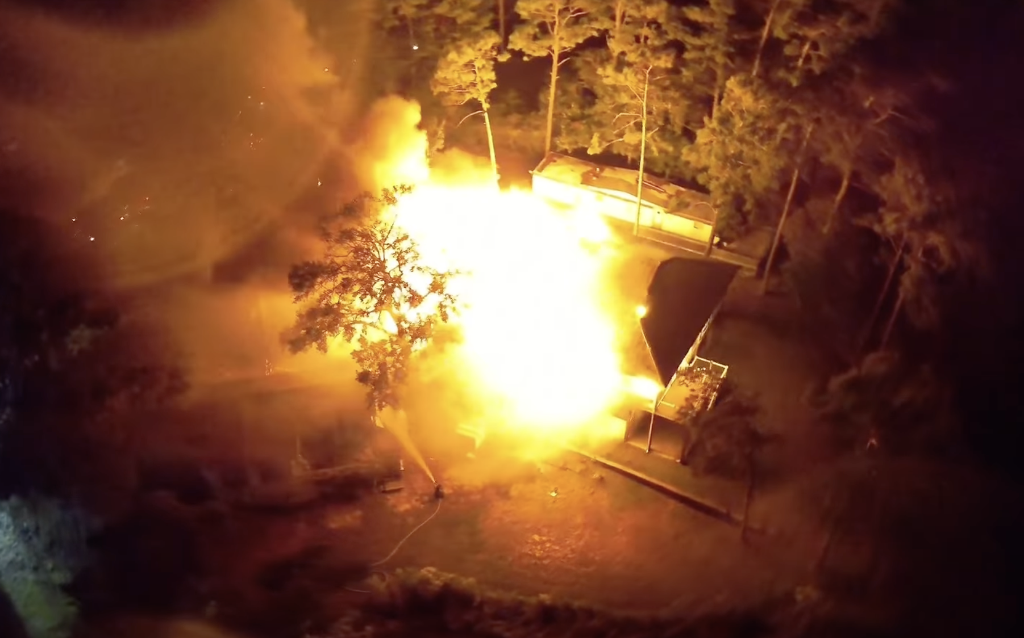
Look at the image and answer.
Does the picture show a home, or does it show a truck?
home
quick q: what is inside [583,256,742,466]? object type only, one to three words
house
